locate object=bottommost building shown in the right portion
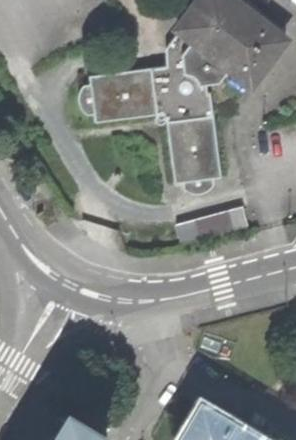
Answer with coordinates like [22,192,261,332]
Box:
[174,398,274,440]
